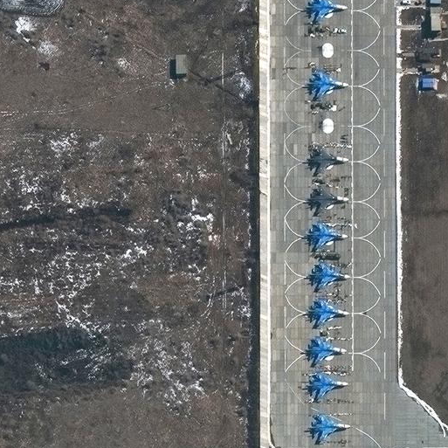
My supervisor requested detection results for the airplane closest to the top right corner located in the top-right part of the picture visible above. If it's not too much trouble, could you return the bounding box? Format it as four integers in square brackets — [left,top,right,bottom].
[305,0,347,21]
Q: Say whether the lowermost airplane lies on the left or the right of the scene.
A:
right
